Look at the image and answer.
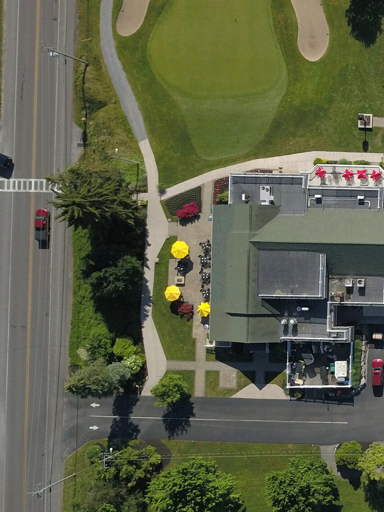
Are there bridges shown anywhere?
No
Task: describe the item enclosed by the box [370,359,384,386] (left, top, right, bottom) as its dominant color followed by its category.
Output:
red car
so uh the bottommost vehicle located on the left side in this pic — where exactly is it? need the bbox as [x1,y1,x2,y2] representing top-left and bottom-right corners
[34,209,52,241]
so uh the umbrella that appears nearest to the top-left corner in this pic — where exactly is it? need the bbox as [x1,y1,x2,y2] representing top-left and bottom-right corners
[172,241,190,259]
